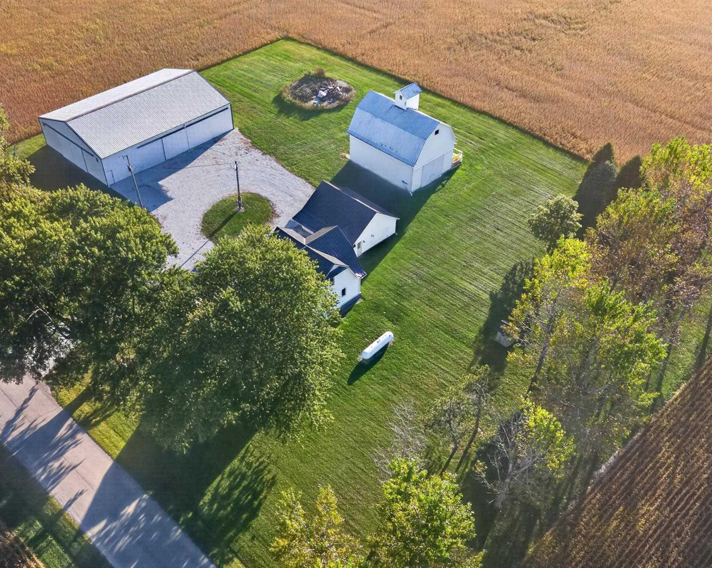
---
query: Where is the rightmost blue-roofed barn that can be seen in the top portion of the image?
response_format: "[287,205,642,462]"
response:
[344,83,457,193]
